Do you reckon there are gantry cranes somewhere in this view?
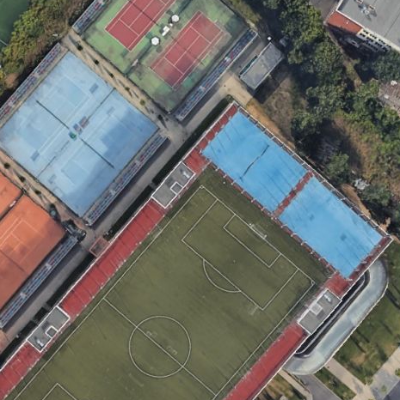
No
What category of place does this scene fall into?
sports ground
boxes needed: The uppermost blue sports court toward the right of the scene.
[201,111,307,212]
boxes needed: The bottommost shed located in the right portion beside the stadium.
[239,42,284,92]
